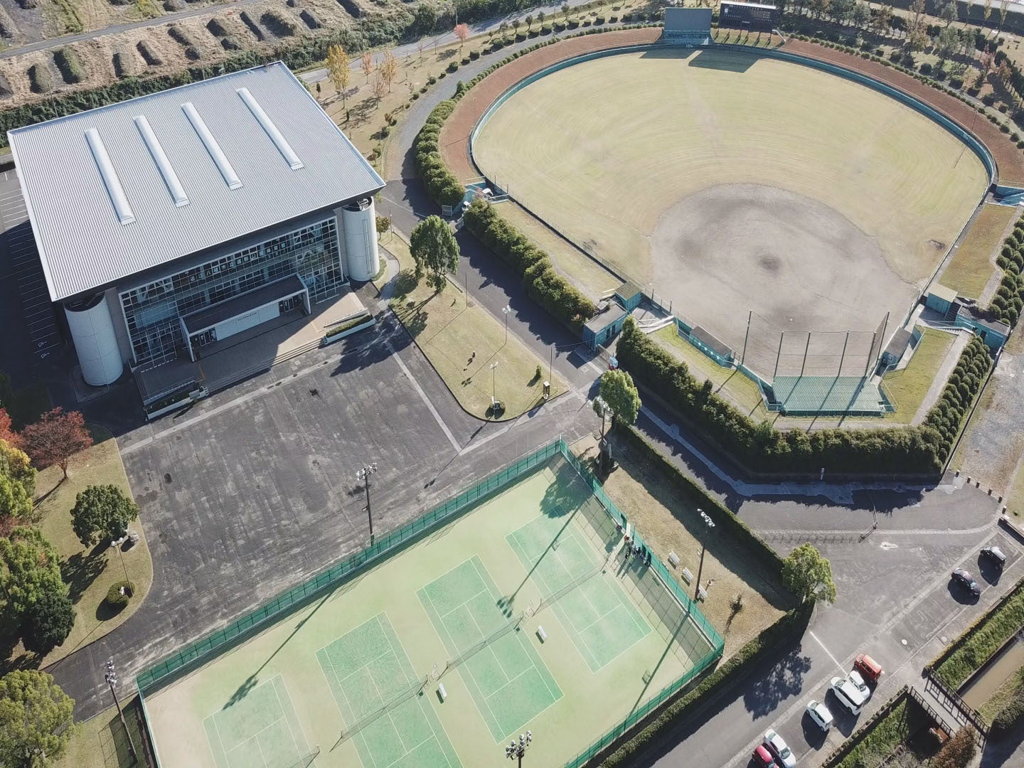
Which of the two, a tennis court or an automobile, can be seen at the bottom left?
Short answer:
tennis court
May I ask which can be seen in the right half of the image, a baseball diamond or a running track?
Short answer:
baseball diamond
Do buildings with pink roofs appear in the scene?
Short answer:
No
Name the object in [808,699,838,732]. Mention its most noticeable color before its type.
white car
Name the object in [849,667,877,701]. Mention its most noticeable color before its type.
white car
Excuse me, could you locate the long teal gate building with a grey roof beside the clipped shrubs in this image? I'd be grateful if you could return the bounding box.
[959,302,1017,351]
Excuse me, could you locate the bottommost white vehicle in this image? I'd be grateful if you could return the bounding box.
[766,726,799,768]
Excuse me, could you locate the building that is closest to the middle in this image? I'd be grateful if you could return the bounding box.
[584,291,633,349]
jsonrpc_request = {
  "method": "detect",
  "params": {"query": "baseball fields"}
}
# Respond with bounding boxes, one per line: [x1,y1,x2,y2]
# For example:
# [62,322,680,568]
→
[473,47,988,382]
